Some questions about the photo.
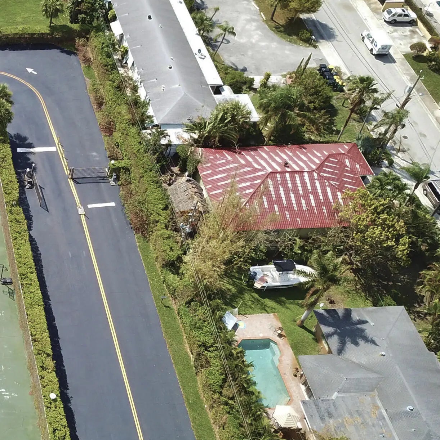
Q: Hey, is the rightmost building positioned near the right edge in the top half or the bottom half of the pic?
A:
bottom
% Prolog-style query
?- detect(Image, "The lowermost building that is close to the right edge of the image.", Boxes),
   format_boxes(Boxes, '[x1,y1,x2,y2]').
[293,306,440,440]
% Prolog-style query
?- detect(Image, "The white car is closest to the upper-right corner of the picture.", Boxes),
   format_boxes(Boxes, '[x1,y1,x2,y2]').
[381,6,418,25]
